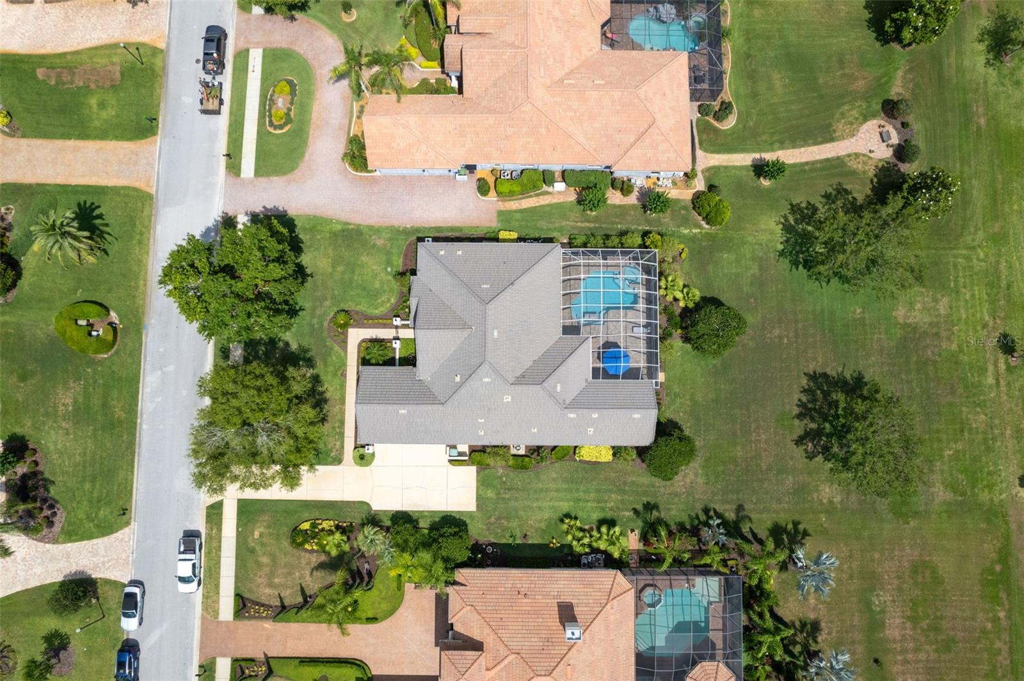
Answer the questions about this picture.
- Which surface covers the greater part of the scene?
grass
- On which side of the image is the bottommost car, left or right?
left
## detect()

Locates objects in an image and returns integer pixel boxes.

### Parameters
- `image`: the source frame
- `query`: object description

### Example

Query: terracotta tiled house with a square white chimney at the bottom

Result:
[439,564,636,681]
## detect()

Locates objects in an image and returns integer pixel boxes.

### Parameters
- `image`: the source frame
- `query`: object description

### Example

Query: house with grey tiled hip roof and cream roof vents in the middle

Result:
[355,241,658,446]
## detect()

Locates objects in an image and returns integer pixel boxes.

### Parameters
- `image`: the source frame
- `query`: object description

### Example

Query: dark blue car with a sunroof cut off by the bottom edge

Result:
[112,645,140,681]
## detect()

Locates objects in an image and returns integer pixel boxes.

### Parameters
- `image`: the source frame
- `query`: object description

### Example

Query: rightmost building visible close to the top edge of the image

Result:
[362,0,692,177]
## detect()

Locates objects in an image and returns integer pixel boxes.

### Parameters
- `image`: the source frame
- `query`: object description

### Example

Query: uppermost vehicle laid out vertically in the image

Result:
[202,23,229,78]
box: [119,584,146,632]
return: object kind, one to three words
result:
car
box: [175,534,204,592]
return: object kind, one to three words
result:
truck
